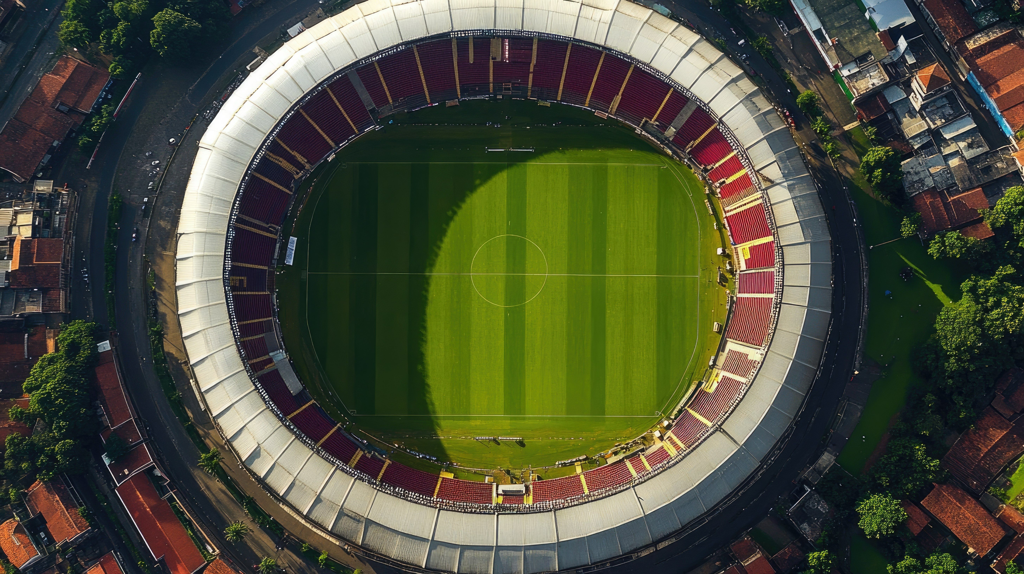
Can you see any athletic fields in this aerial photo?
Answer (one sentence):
Yes, there's an athletic field here.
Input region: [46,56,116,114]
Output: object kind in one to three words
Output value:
house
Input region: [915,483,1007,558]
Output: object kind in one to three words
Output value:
house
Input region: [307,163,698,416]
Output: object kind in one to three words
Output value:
sports field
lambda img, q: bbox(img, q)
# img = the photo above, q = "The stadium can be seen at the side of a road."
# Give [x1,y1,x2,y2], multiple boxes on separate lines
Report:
[173,0,835,574]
